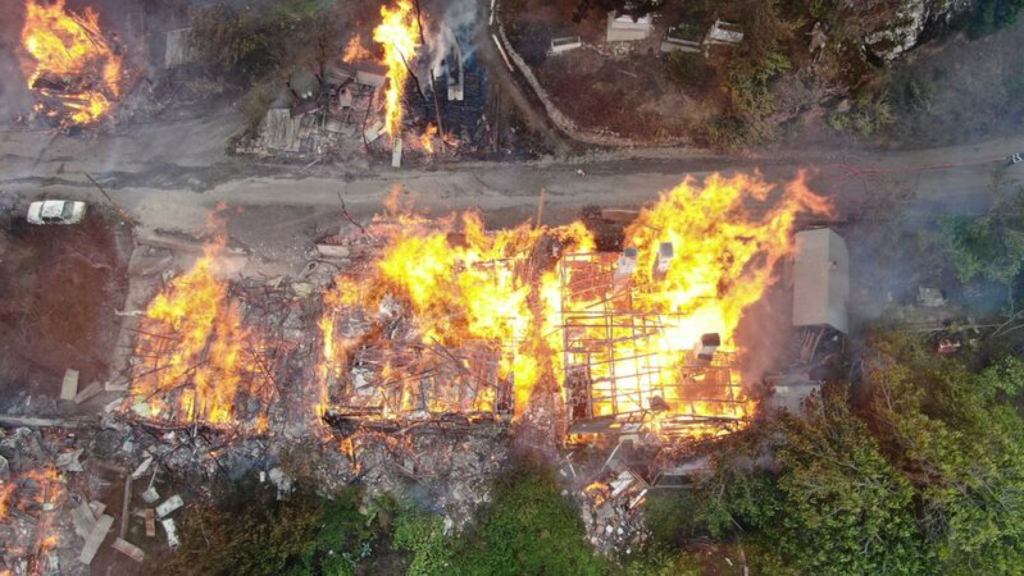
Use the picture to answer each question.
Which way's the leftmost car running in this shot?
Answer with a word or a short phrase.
from side to side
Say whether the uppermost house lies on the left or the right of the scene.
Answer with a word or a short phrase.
left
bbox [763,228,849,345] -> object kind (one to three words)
shed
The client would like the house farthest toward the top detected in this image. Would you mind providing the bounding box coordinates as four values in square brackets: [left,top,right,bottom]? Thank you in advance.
[19,10,120,115]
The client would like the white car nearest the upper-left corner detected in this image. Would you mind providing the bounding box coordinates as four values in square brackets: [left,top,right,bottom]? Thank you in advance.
[21,198,88,227]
